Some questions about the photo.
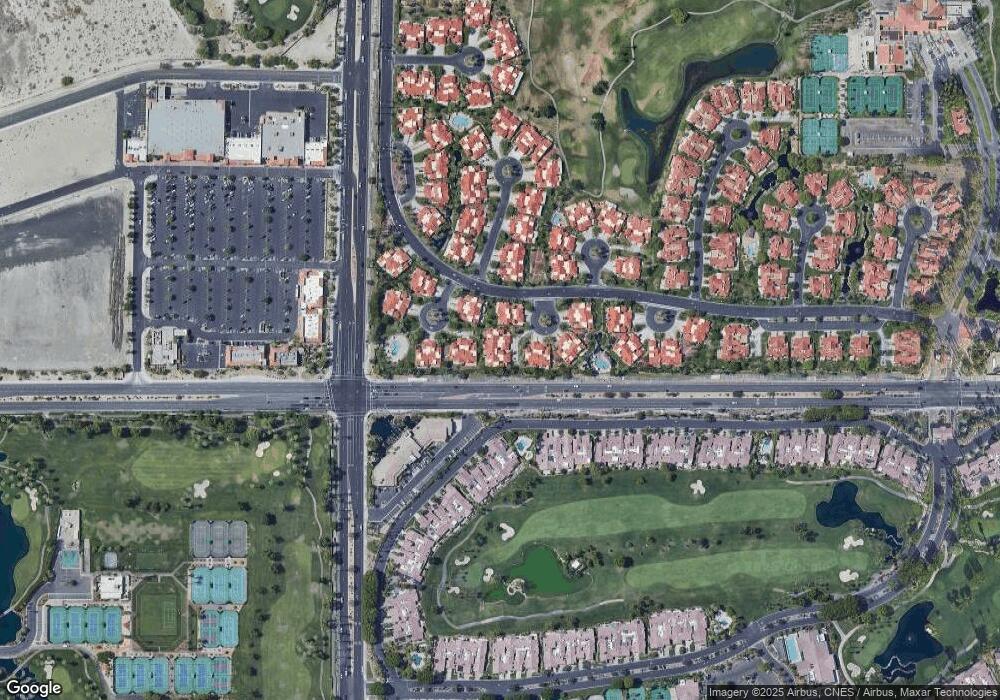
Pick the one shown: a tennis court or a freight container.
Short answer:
tennis court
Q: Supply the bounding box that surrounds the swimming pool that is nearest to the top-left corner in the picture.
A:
[449,111,473,131]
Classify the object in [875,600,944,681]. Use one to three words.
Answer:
pond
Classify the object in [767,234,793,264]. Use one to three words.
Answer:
house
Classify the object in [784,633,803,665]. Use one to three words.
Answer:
swimming pool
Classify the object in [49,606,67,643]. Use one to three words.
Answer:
tennis court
